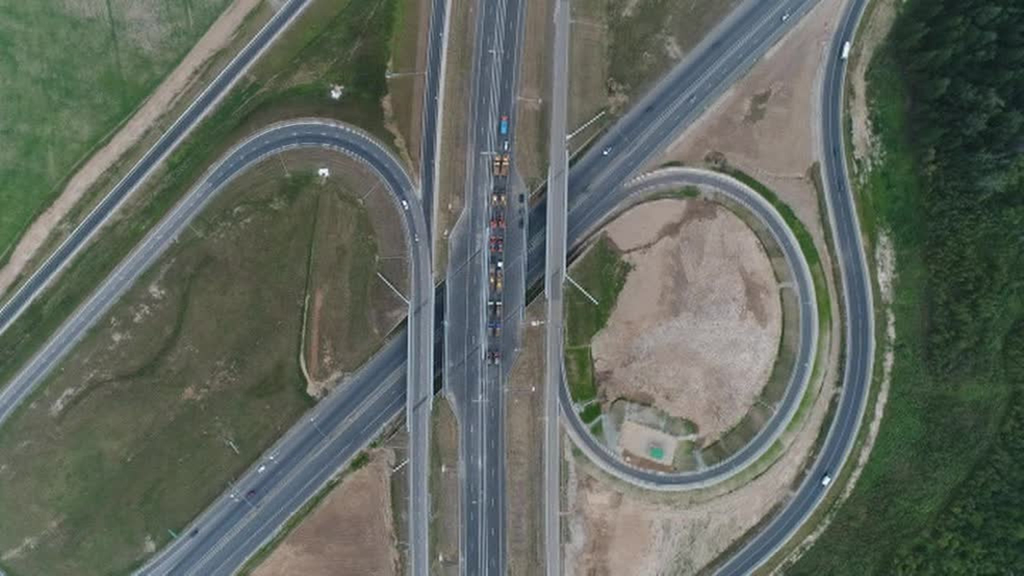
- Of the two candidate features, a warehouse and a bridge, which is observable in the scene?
bridge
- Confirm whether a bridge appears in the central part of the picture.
Yes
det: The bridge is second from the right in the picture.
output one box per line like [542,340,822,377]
[444,195,526,399]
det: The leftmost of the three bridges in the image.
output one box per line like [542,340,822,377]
[407,277,435,433]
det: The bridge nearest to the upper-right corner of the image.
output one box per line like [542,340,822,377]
[544,149,569,299]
